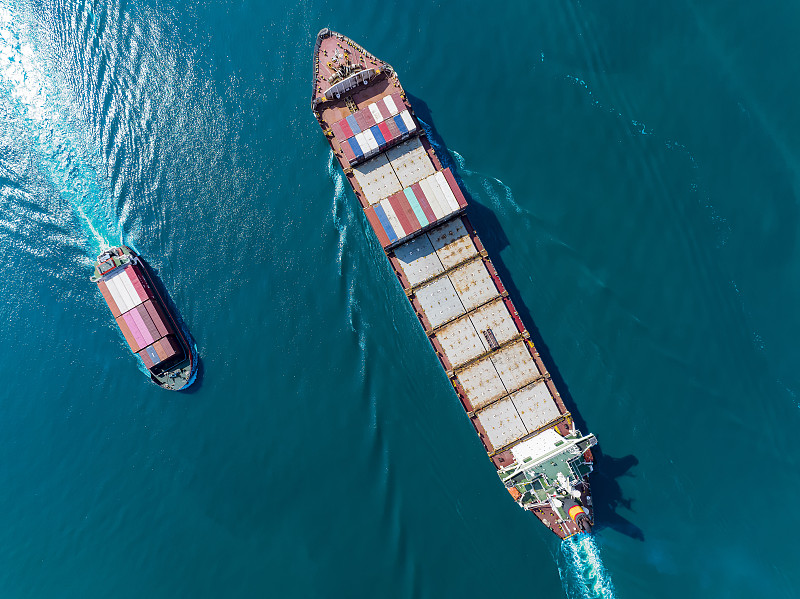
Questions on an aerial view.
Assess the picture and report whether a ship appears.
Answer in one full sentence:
Yes, a ship can be made out from above.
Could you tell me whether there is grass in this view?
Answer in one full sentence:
No, the scene doesn't show any grass.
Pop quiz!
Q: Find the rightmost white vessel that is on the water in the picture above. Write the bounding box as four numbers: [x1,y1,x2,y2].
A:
[313,28,597,540]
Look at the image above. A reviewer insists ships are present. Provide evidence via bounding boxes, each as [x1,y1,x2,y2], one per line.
[88,243,193,390]
[313,28,597,540]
